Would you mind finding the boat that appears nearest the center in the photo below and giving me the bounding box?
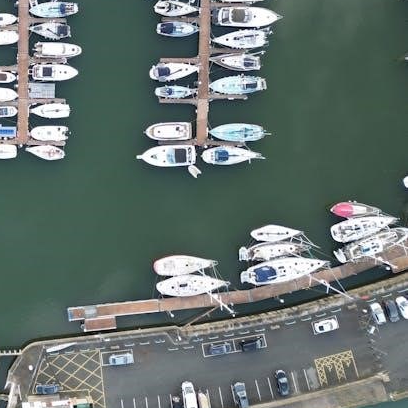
[188,165,202,178]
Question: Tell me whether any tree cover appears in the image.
No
